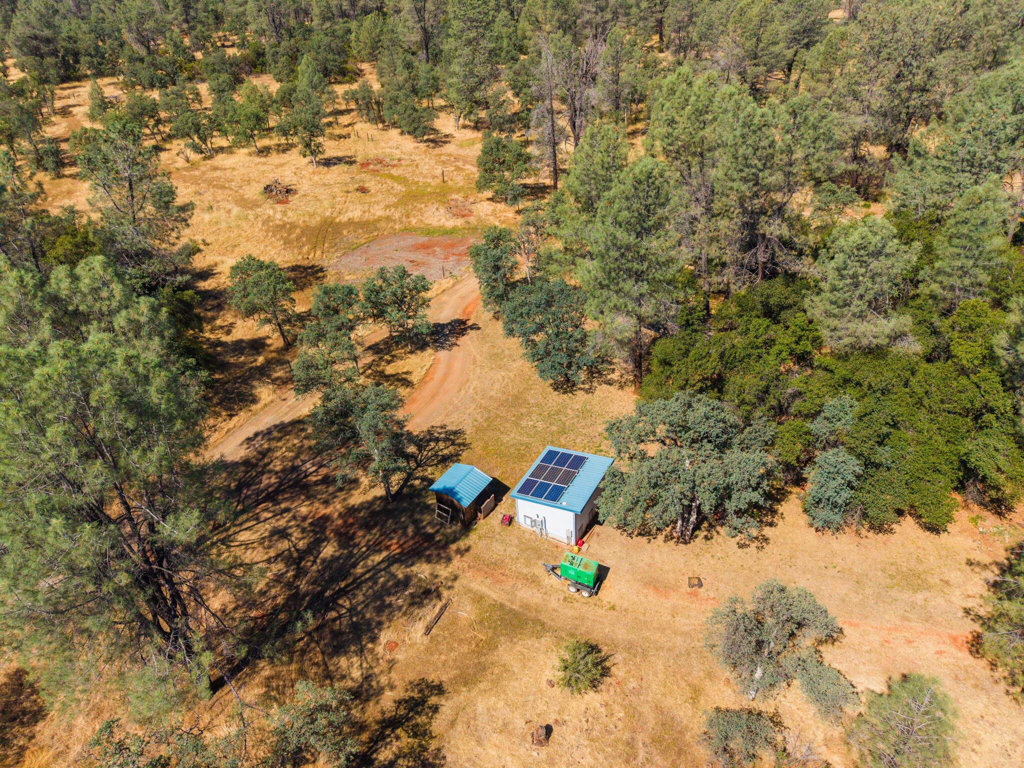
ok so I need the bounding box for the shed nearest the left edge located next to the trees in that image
[429,463,493,525]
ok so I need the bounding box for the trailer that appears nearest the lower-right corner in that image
[541,552,603,597]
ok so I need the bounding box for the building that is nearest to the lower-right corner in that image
[509,444,615,545]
